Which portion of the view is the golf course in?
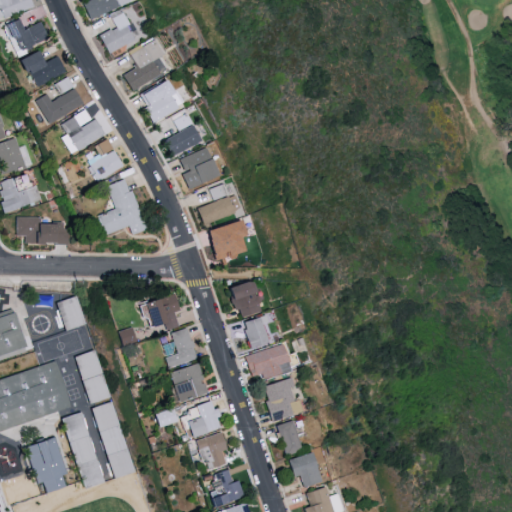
top right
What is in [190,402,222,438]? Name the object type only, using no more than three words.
house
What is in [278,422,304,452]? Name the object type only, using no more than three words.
house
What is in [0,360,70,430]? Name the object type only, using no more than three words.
building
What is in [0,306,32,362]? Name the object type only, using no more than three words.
building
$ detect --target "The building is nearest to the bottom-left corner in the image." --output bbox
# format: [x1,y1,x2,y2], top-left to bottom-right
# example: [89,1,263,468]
[28,438,69,494]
